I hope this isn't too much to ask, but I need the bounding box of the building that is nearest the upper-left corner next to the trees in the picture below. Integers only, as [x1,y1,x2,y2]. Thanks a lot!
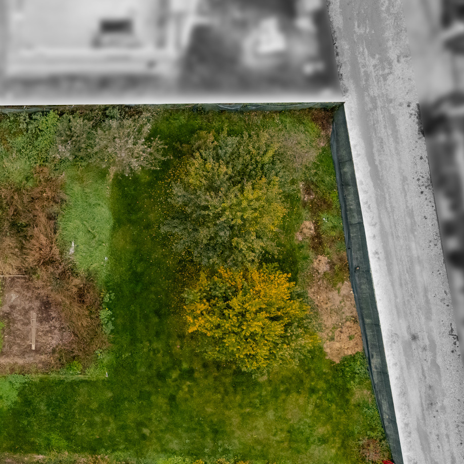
[3,0,171,93]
